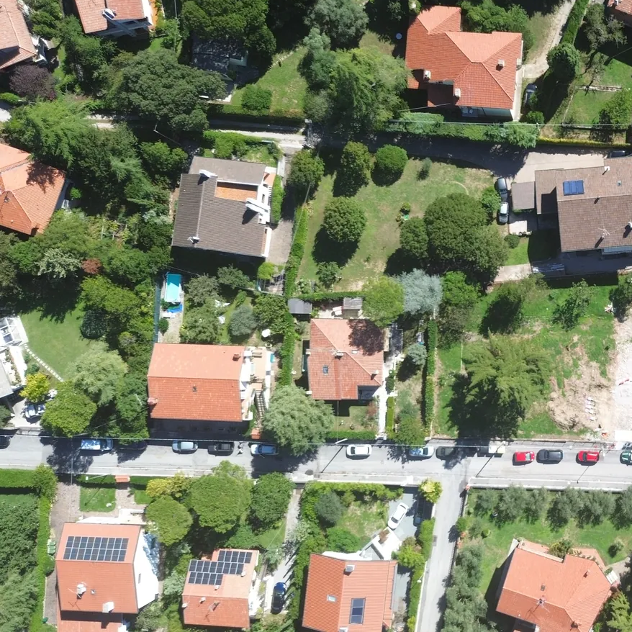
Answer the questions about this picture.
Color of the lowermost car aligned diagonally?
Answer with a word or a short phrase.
white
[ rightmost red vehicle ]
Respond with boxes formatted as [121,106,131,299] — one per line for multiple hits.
[577,451,599,463]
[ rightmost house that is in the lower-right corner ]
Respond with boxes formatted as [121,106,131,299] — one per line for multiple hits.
[490,532,619,632]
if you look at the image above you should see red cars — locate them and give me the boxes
[577,451,599,463]
[515,451,535,462]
